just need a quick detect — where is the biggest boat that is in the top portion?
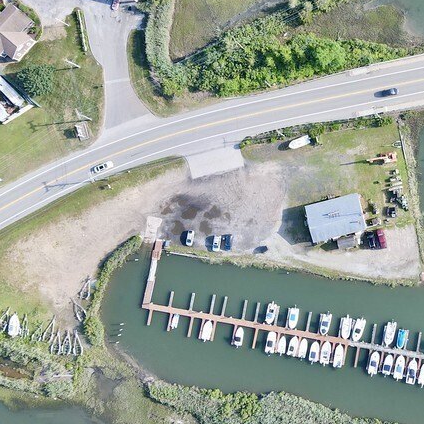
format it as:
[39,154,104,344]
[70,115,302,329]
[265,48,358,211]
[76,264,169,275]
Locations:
[288,134,312,149]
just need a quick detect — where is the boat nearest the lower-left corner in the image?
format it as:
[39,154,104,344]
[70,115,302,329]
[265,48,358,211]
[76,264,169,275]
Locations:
[8,312,20,340]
